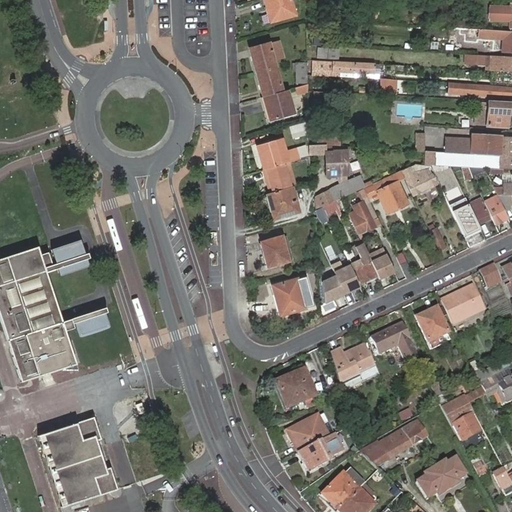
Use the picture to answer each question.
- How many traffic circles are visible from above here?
one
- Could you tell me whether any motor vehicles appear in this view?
Yes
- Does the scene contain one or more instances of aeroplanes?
No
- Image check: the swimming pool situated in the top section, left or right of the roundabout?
right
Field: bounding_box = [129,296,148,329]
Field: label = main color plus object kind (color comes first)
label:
white vehicle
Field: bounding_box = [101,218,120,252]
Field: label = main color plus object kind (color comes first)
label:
white vehicle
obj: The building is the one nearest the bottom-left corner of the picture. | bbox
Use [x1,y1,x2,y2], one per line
[40,416,118,511]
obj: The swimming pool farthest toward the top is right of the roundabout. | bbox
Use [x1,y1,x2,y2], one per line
[391,102,425,124]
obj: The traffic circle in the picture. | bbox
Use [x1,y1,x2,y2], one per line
[76,58,194,176]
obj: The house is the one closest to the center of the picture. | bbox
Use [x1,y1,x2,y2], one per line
[260,235,292,270]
